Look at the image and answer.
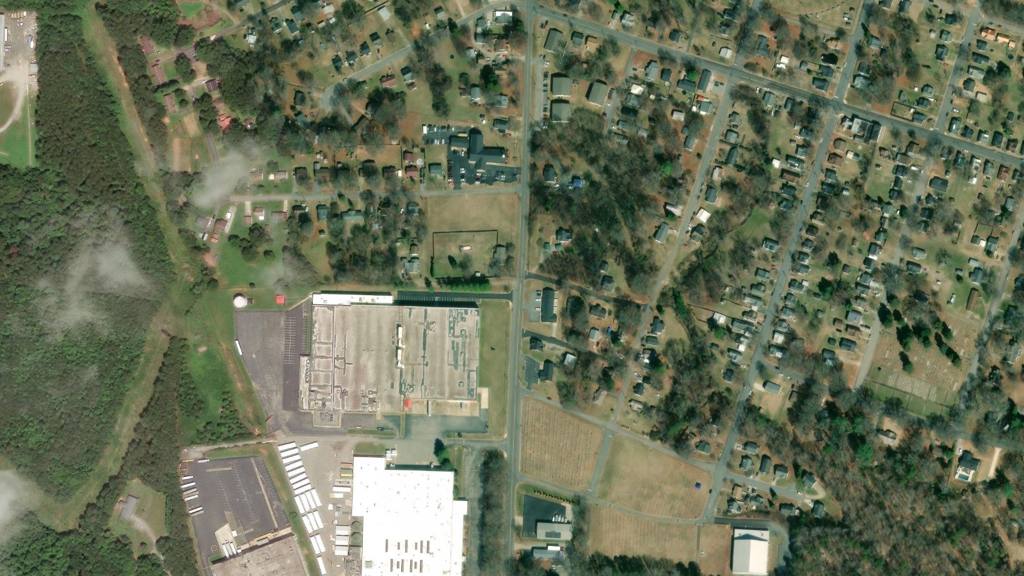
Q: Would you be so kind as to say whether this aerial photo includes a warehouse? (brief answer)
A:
Yes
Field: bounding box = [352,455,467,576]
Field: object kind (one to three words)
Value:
warehouse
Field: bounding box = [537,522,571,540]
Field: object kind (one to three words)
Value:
house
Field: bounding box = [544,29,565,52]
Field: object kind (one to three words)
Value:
building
